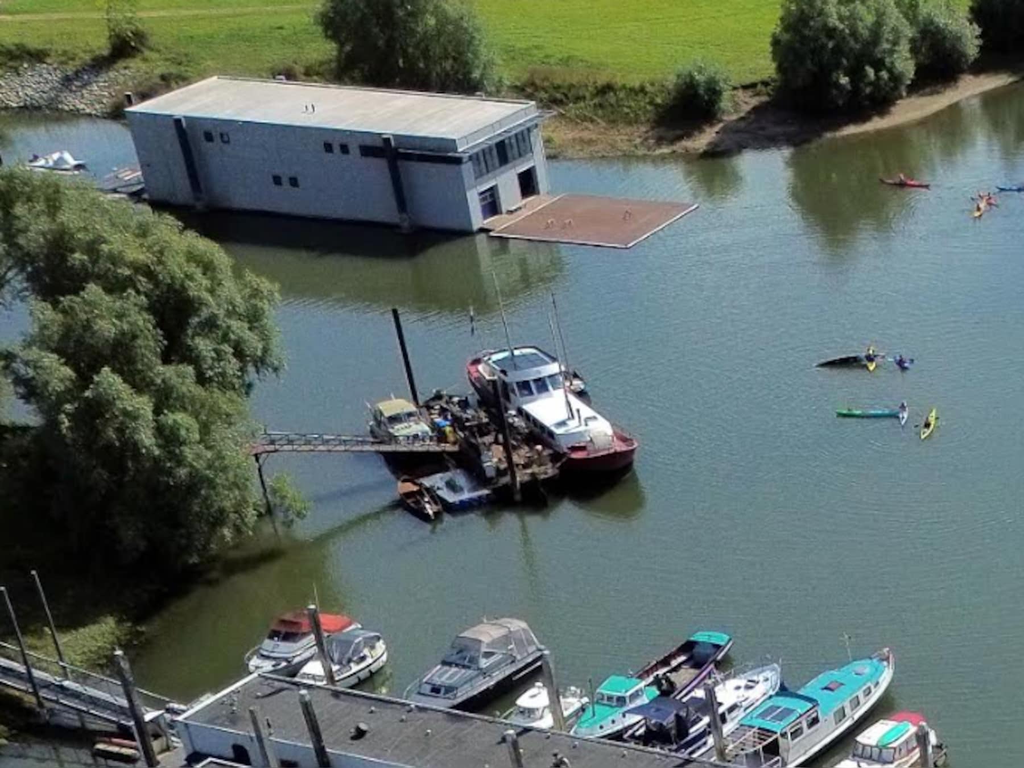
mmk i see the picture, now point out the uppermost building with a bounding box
[123,74,556,235]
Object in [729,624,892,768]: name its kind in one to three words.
boat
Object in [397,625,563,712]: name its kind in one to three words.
boat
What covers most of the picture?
water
